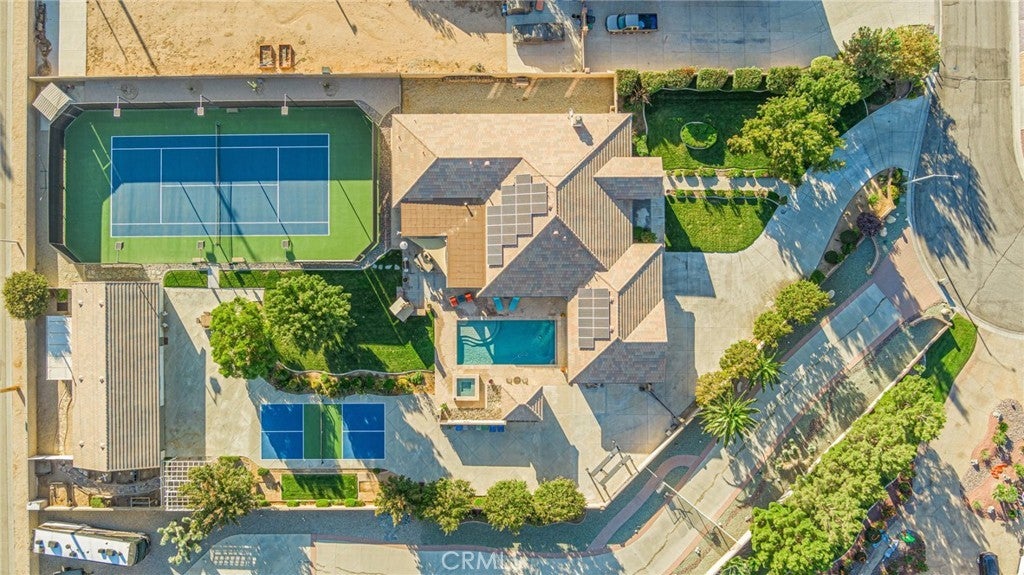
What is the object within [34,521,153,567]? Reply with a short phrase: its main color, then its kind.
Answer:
white camper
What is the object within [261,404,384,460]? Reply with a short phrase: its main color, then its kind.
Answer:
blue sports court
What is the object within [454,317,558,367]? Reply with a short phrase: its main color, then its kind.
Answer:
blue swimming pool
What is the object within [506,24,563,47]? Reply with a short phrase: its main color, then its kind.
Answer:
gray trailer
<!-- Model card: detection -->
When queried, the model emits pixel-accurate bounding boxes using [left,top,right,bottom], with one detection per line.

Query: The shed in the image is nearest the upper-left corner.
[32,82,77,121]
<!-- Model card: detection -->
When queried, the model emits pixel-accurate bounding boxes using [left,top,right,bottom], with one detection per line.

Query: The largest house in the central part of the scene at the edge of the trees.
[391,112,667,384]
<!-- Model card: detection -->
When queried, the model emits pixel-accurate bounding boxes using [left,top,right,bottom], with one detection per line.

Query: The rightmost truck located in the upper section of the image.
[604,11,659,35]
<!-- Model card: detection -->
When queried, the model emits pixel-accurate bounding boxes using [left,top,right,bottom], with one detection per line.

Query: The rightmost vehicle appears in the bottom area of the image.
[974,553,999,575]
